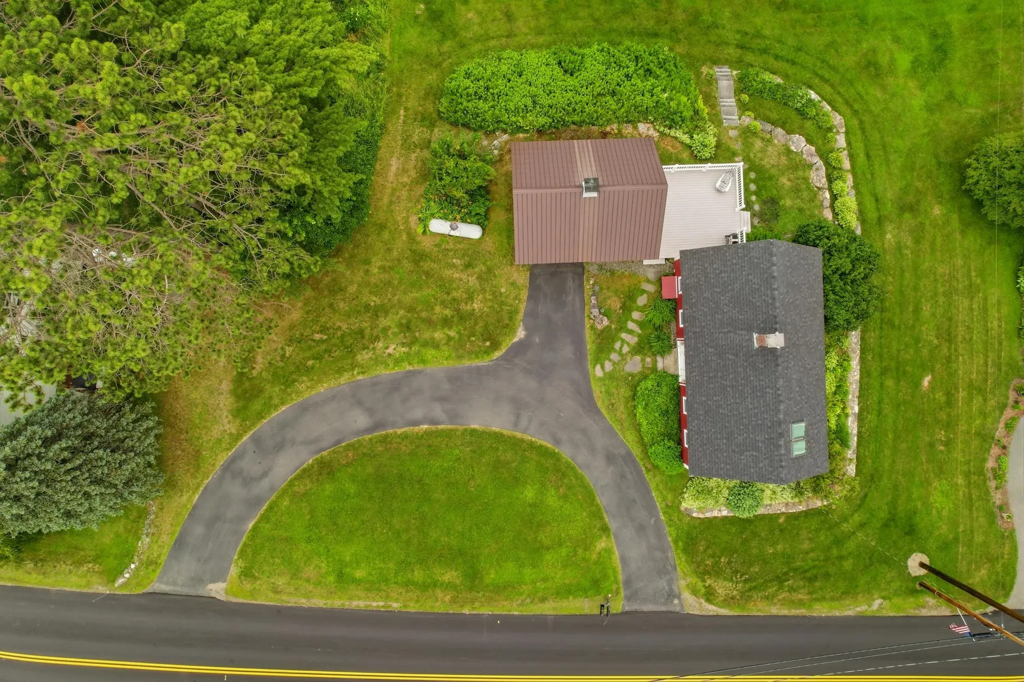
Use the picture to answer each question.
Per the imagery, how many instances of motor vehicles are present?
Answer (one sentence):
The count of motor vehicles is 0.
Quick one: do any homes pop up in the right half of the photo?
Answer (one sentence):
Yes, looking in the right half of the photo, one can make out a home.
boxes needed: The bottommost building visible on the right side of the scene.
[673,239,828,485]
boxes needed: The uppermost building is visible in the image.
[512,136,671,265]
